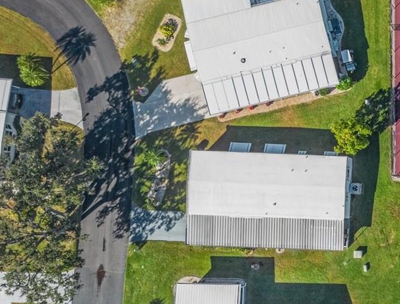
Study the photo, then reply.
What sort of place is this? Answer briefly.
residential area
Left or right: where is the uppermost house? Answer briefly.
right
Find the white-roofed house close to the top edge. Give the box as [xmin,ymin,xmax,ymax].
[181,0,340,115]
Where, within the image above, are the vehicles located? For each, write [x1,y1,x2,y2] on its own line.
[4,95,24,111]
[338,45,358,73]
